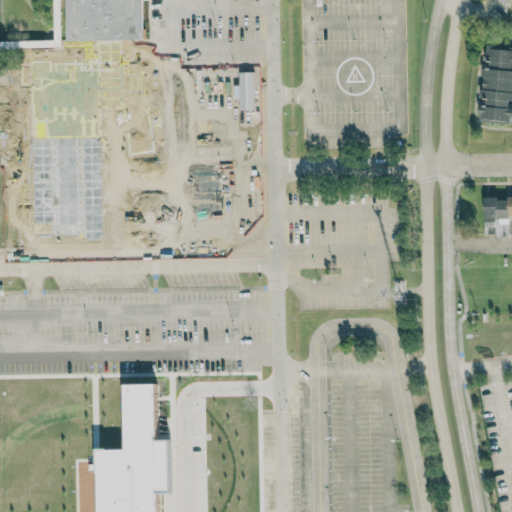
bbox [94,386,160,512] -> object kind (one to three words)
building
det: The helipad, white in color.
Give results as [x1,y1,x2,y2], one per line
[337,58,374,96]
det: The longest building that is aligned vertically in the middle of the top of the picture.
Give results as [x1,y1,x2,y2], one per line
[240,72,256,110]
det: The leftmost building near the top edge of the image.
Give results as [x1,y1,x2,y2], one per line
[66,0,144,42]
